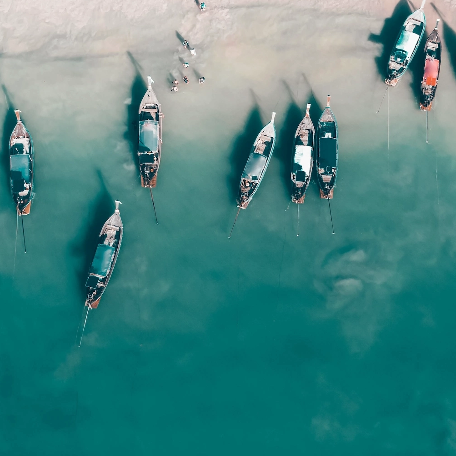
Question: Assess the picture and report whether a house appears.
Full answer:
No, no house is visible in the scene.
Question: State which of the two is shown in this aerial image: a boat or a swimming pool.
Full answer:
Of the two, only a boat appears.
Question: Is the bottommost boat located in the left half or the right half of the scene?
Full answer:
The bottommost boat sits on the left side.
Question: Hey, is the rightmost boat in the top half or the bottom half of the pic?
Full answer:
The top half of the photo is where the rightmost boat is.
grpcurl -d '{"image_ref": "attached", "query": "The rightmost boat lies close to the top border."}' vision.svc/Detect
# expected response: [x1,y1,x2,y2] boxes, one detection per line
[420,19,442,124]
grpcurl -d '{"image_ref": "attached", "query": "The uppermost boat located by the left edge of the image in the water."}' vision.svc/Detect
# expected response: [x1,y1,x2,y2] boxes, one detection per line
[10,110,36,253]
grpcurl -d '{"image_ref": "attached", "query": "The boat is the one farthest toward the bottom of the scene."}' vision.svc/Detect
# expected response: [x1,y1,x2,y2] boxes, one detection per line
[78,199,125,347]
